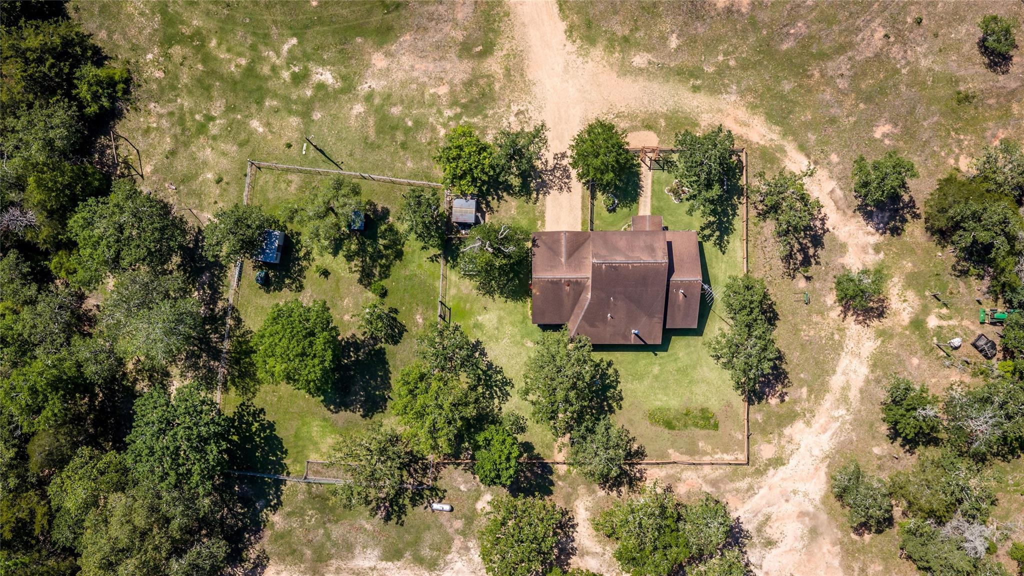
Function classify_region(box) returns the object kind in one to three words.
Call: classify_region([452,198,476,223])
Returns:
shed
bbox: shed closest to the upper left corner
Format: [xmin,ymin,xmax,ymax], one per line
[256,231,293,263]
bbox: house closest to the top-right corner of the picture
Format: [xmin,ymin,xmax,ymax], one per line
[531,215,703,344]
